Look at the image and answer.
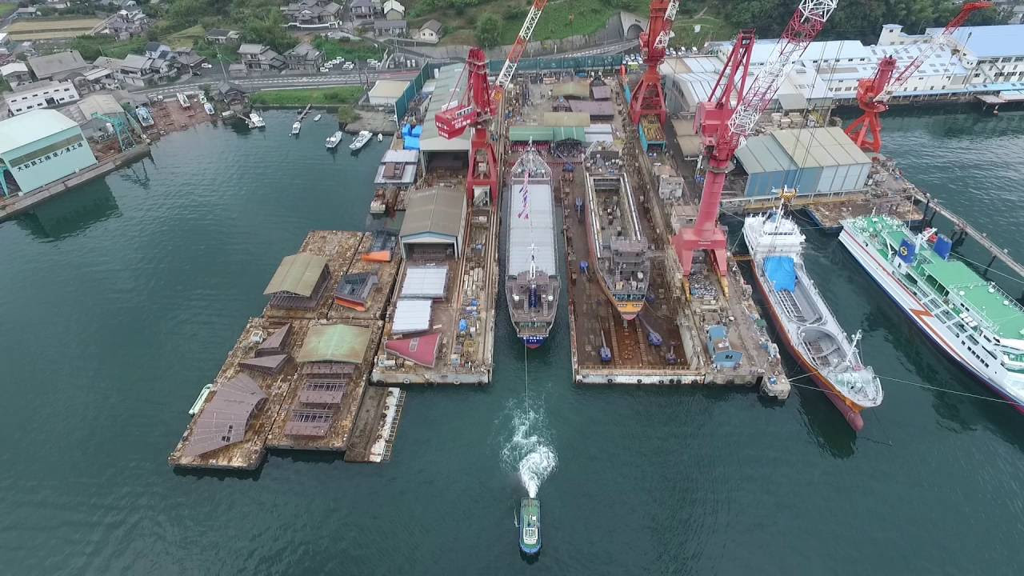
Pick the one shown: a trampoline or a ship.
ship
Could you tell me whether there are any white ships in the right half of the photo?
Yes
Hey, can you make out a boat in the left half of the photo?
Yes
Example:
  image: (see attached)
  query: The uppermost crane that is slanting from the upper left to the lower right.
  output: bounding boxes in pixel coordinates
[78,88,140,148]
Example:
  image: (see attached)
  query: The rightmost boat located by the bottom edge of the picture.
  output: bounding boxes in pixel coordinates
[517,495,542,552]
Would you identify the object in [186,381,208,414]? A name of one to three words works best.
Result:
boat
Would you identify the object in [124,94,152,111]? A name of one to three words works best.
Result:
shed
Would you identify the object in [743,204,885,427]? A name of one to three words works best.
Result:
ship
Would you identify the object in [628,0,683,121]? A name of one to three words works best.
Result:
crane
